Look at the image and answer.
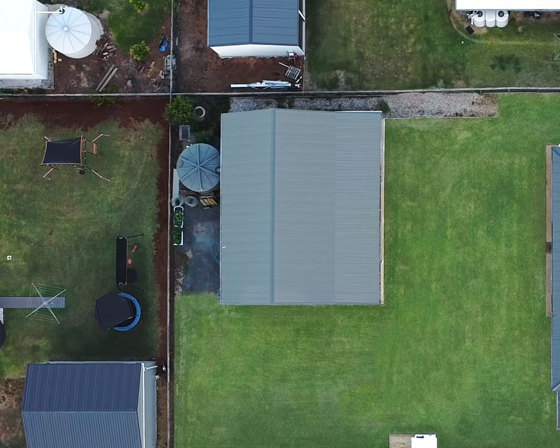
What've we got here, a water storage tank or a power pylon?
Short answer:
water storage tank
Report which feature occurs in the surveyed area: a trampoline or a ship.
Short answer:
trampoline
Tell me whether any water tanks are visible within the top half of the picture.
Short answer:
Yes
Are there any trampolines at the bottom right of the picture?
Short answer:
No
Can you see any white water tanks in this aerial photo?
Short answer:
Yes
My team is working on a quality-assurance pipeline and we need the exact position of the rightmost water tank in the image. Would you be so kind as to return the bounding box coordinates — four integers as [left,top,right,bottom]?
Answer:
[467,11,509,29]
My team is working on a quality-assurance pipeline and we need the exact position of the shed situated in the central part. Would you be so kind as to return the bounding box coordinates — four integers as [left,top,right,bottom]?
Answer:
[220,108,383,304]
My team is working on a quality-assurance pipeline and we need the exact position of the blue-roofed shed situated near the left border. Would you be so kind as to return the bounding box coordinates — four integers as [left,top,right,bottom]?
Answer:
[21,362,156,448]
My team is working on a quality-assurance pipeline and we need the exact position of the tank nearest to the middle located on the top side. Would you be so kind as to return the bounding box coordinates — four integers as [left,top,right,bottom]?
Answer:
[176,145,220,193]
